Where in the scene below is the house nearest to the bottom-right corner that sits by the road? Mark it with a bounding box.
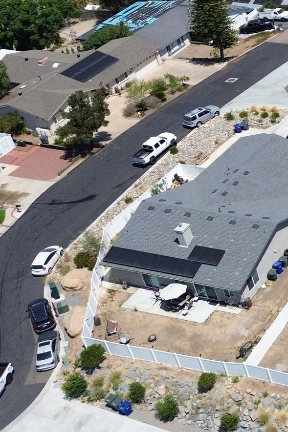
[99,130,288,311]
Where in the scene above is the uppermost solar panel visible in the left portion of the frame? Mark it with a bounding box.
[65,54,116,79]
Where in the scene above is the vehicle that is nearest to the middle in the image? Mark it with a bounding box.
[129,135,179,167]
